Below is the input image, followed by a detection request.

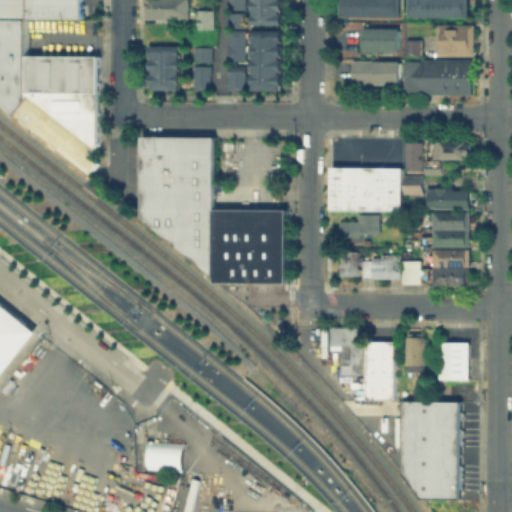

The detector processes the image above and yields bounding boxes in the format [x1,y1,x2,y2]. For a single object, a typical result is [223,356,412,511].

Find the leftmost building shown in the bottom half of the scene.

[0,300,38,380]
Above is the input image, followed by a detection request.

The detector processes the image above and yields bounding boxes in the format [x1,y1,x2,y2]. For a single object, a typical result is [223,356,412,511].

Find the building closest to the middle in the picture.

[212,210,288,283]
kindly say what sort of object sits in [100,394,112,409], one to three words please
vehicle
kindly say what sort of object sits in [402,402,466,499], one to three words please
building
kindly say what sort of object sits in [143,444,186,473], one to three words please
shed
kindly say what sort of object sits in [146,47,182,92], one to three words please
house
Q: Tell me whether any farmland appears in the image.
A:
No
